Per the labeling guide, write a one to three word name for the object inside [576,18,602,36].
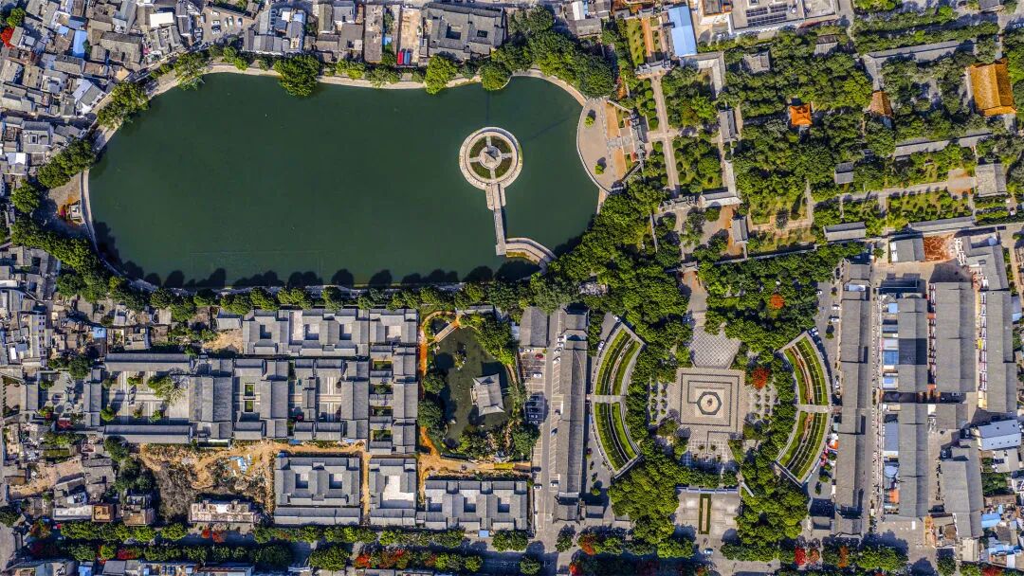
house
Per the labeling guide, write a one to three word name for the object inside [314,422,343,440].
building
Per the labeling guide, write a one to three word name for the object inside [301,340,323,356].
building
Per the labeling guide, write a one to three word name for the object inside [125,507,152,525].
house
